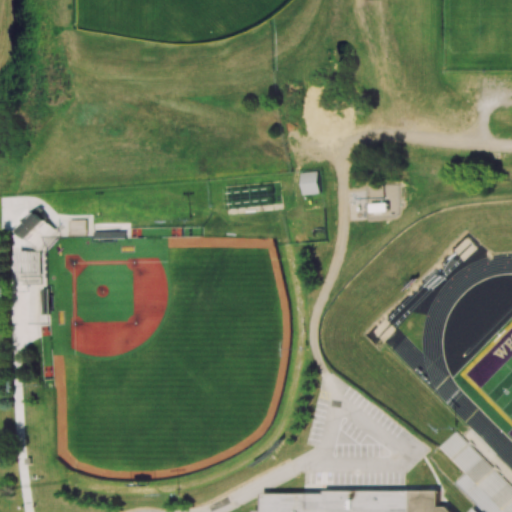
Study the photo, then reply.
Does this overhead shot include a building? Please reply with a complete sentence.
Yes, a building can be made out from above.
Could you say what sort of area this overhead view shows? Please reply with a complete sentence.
It's a sports ground.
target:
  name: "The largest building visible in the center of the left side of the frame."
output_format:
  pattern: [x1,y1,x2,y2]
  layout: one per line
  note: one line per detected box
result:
[14,206,60,245]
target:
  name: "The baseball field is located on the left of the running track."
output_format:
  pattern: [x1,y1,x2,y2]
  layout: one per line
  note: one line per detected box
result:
[48,238,290,480]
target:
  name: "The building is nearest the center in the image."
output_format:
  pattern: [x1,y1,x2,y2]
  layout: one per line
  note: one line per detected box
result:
[300,171,323,196]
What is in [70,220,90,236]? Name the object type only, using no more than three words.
shed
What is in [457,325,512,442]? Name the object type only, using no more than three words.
sports field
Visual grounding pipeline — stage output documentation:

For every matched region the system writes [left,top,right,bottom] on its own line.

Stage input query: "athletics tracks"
[395,253,512,472]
